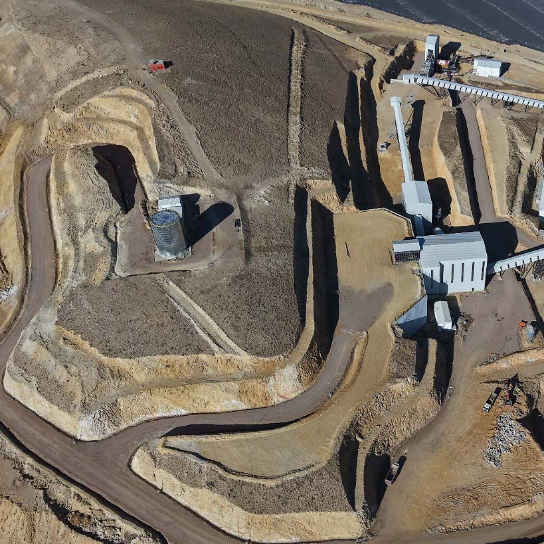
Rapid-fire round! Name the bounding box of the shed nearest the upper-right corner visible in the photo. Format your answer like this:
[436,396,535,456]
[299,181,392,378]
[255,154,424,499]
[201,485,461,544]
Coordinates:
[475,58,501,76]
